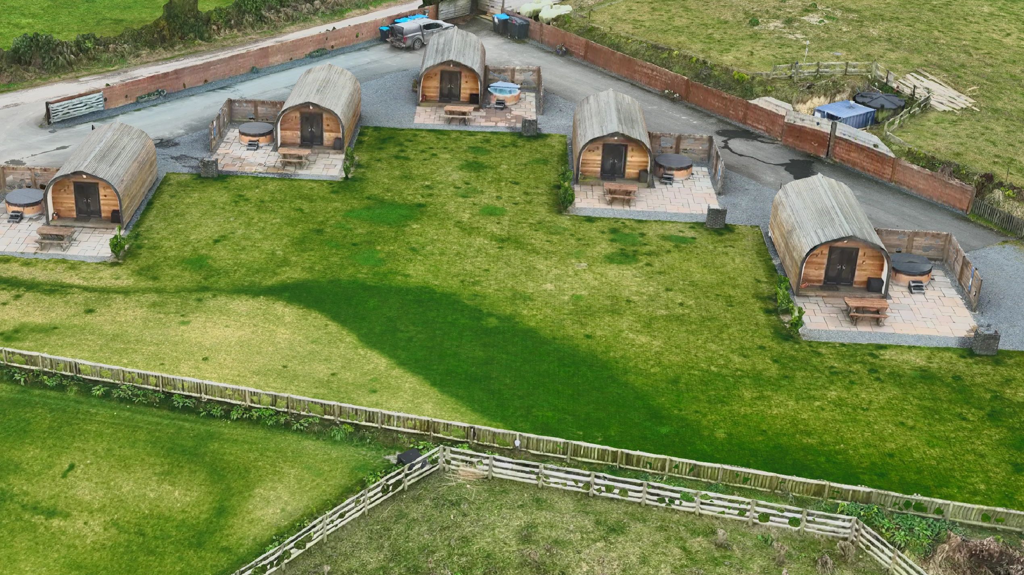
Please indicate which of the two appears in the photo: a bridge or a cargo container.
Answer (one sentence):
Of the two, only a cargo container appears.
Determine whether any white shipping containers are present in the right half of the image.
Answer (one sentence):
No, looking in the right half of the image, there is no white shipping container.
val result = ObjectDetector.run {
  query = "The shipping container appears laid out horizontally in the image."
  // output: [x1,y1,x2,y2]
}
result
[816,100,874,130]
